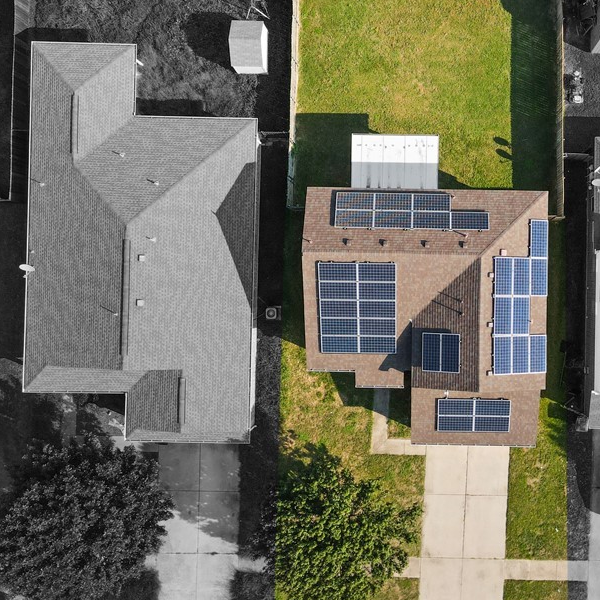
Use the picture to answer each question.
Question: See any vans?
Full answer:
No, I can see no van in this picture.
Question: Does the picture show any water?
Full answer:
No, there is no water in the image.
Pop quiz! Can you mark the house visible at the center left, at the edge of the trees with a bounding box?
[22,40,263,443]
